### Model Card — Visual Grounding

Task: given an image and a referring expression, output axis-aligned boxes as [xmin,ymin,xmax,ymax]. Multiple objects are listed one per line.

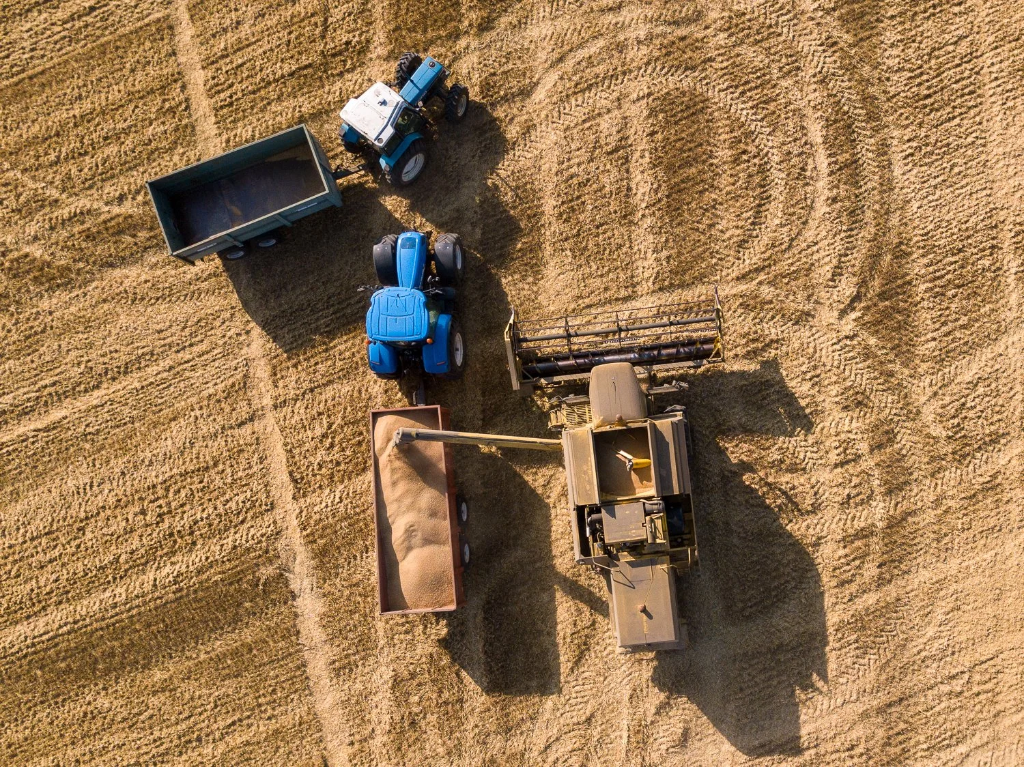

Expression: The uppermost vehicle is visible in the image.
[338,45,471,187]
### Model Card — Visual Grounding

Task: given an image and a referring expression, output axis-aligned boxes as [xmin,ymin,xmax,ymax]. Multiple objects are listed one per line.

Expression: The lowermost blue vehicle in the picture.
[354,225,465,394]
